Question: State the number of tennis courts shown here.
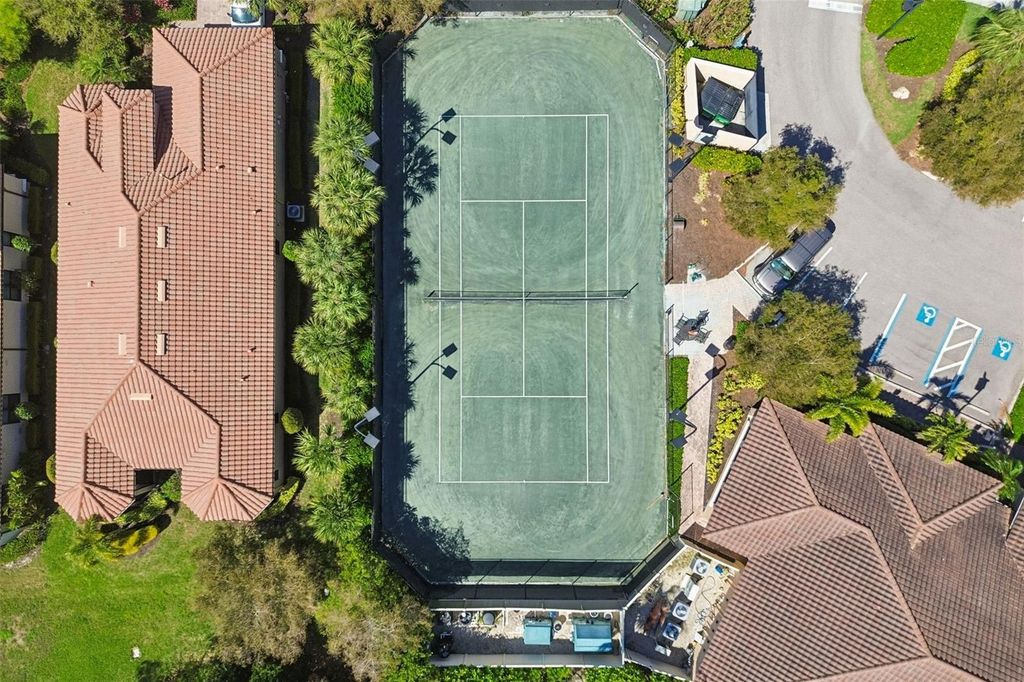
1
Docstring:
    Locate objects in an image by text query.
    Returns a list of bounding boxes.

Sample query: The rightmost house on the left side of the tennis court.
[54,24,286,522]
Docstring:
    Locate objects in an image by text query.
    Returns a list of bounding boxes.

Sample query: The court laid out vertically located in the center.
[382,13,668,585]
